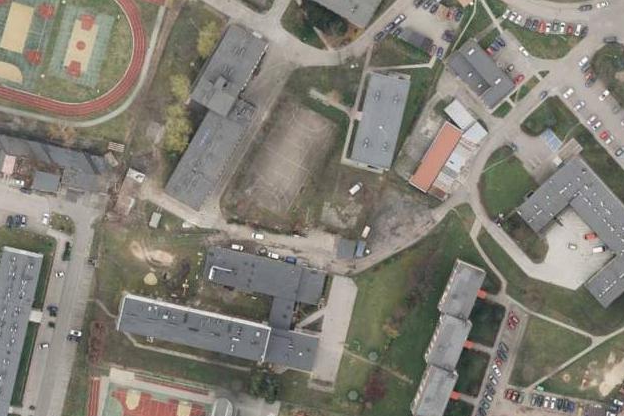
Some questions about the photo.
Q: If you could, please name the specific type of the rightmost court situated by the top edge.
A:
basketball court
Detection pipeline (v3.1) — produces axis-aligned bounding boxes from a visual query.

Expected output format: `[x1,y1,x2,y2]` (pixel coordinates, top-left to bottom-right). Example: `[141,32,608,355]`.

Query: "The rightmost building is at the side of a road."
[516,136,624,310]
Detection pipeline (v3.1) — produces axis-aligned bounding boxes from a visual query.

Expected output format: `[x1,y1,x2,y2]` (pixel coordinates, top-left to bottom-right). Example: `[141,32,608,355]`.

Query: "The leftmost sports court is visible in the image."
[0,0,60,90]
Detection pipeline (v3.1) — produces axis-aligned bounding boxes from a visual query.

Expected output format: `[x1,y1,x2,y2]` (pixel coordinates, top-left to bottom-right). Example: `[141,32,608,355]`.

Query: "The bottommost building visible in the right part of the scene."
[410,366,461,416]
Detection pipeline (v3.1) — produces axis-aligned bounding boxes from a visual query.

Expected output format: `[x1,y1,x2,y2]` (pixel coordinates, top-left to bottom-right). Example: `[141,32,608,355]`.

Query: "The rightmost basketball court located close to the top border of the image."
[48,4,115,89]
